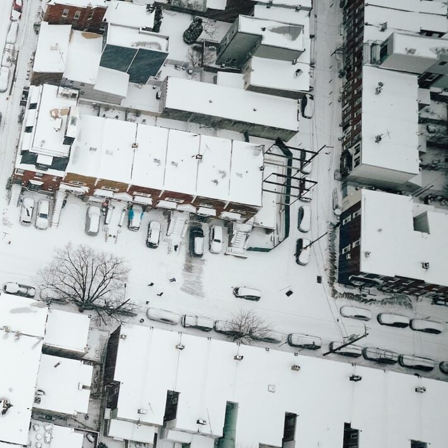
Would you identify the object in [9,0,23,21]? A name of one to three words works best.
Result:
vehicle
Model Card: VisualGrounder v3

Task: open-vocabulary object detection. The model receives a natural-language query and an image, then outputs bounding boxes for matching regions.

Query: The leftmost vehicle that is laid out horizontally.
[4,283,34,298]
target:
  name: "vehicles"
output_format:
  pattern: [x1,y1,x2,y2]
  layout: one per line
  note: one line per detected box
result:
[289,334,317,350]
[208,227,225,253]
[411,318,446,335]
[294,238,310,266]
[125,206,141,231]
[187,228,203,255]
[377,313,407,329]
[5,22,19,43]
[84,208,100,235]
[9,0,23,21]
[41,289,70,303]
[147,308,179,325]
[145,223,160,248]
[212,322,241,336]
[35,202,50,229]
[297,177,312,203]
[300,96,314,118]
[0,41,15,70]
[363,348,395,365]
[18,199,35,226]
[232,286,261,303]
[4,283,34,298]
[328,342,361,357]
[179,315,214,332]
[400,355,431,370]
[339,306,369,322]
[248,329,277,346]
[296,209,311,231]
